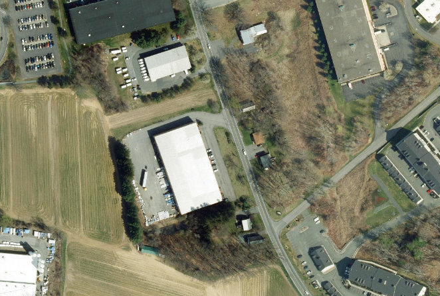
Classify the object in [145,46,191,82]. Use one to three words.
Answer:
building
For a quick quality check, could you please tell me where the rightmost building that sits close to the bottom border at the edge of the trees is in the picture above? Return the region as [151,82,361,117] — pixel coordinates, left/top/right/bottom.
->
[349,261,427,296]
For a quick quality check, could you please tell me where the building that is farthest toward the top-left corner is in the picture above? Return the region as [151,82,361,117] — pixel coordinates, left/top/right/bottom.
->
[70,0,175,46]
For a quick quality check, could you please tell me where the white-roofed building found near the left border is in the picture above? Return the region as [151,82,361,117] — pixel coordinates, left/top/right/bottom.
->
[0,244,38,296]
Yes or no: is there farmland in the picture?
Yes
